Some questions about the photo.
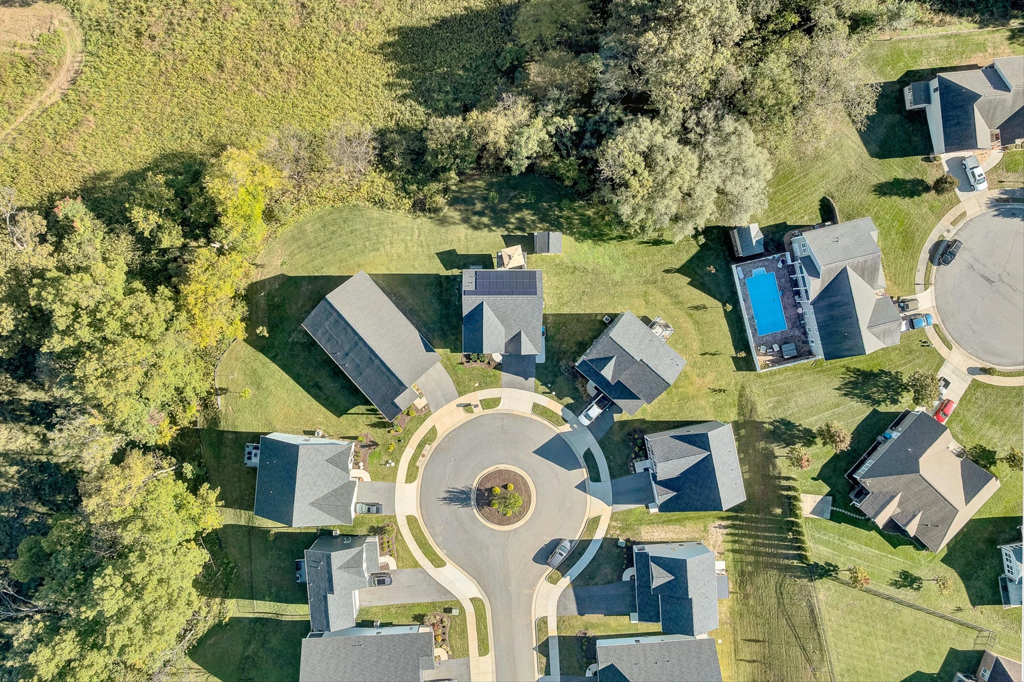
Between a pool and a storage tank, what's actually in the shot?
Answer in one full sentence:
It is a pool that can be seen here.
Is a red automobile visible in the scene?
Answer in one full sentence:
Yes, you can see a red automobile in this photo.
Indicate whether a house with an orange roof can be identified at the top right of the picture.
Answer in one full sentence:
No, I can find no house with an orange roof at the top right of the picture.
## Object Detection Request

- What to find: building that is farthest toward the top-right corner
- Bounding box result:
[903,56,1024,153]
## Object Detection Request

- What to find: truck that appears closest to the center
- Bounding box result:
[580,395,613,425]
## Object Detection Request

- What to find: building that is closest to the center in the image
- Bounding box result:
[462,269,543,355]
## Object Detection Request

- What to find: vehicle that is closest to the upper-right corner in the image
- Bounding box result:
[962,156,988,190]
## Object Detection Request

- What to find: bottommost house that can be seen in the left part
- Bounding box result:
[302,619,441,682]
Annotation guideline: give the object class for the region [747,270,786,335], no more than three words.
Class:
swimming pool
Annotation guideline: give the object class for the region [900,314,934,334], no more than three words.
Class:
vehicle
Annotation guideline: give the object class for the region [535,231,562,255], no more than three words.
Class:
shed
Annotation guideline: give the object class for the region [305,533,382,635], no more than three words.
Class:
house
